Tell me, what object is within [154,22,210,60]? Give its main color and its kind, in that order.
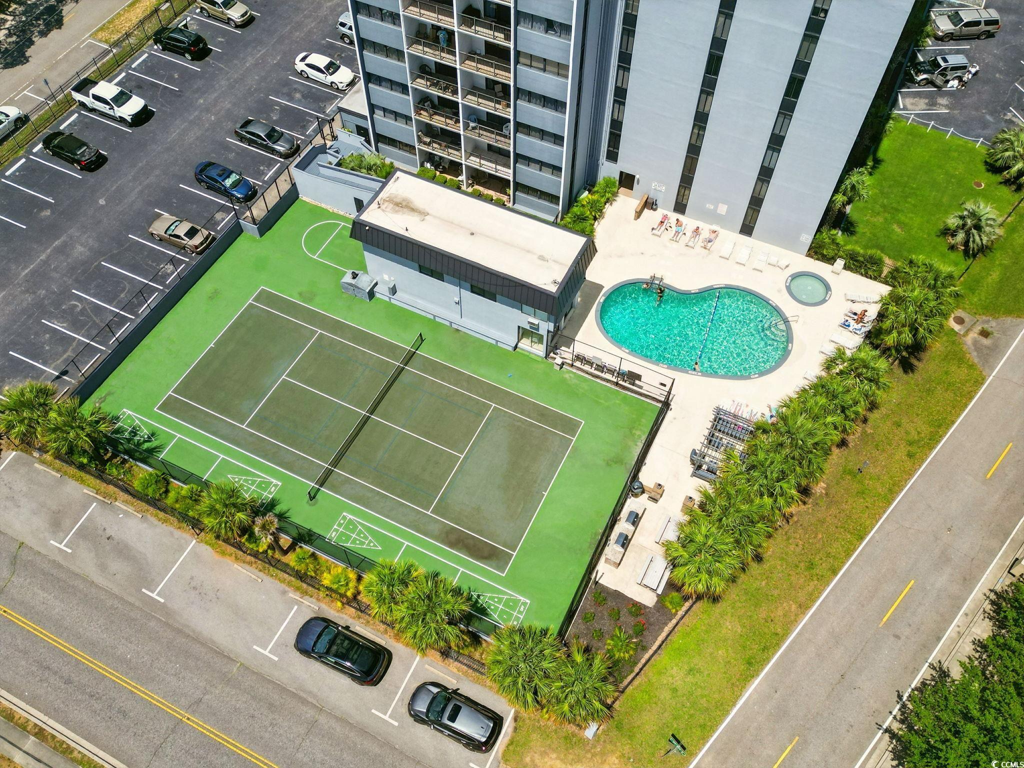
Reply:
black car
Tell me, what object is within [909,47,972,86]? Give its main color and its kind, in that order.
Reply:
gray car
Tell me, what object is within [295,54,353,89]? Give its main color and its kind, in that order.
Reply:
white car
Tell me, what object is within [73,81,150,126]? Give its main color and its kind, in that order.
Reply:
white truck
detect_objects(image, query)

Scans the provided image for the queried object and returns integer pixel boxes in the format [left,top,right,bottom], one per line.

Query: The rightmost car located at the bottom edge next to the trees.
[408,681,506,756]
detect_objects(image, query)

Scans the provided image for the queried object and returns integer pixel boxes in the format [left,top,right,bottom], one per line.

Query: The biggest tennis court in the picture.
[75,196,661,663]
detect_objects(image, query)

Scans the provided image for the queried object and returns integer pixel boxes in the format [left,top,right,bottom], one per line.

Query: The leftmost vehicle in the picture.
[0,105,26,136]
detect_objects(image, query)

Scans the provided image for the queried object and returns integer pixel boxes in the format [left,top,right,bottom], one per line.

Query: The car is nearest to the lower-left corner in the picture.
[293,616,388,687]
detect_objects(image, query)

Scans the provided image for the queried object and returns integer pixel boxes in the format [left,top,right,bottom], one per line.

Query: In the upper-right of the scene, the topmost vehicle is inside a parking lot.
[932,8,1002,42]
